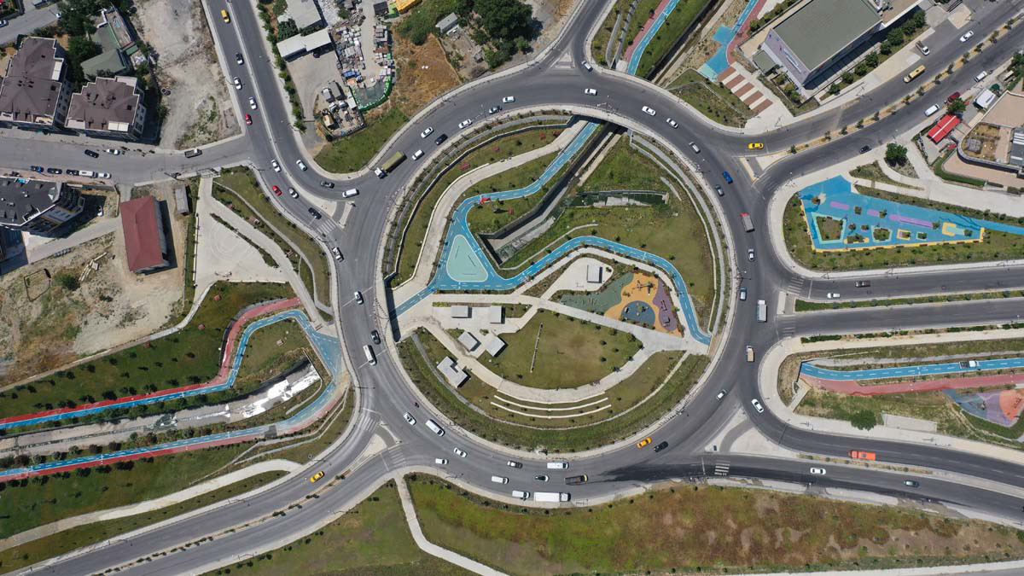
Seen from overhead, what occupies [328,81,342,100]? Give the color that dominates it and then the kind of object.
gray vehicle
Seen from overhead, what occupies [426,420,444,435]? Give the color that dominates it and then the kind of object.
white vehicle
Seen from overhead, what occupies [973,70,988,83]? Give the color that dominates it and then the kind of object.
white vehicle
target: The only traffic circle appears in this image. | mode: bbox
[309,50,812,497]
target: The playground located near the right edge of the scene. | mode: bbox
[942,388,1024,427]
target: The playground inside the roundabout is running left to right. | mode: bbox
[559,273,681,336]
